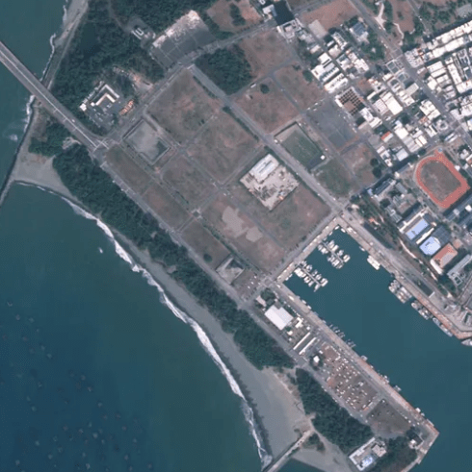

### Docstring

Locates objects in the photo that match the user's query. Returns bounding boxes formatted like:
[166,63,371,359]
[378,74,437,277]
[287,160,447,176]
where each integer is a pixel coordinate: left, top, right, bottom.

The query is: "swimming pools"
[357,454,372,470]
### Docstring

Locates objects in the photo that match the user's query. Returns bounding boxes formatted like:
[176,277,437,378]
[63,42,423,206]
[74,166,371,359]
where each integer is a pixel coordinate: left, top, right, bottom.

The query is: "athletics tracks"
[416,157,469,209]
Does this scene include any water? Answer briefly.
Yes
